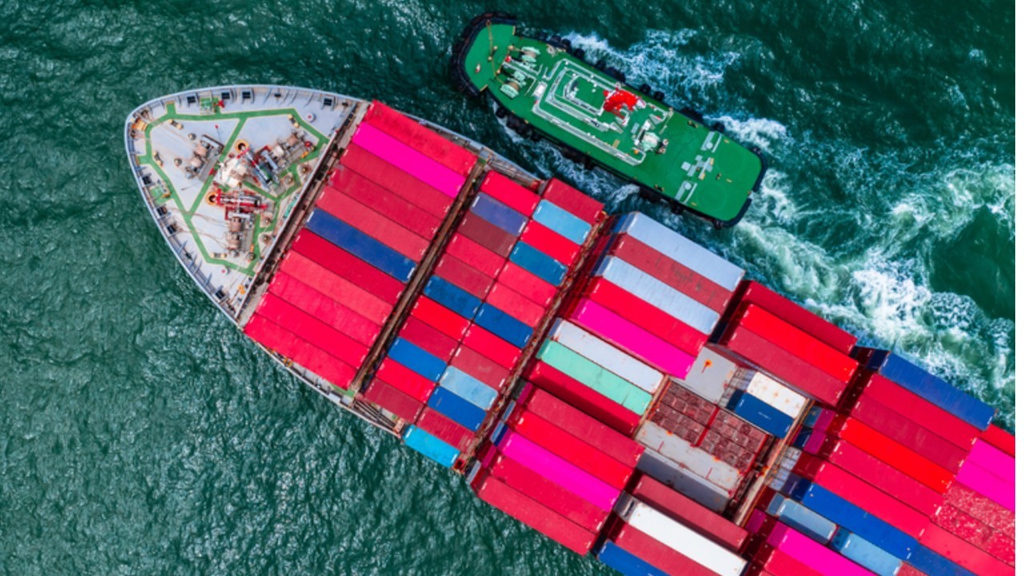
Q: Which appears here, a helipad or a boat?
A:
boat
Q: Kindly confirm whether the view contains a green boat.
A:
Yes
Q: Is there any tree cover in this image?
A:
No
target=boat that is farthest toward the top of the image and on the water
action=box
[450,12,767,233]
